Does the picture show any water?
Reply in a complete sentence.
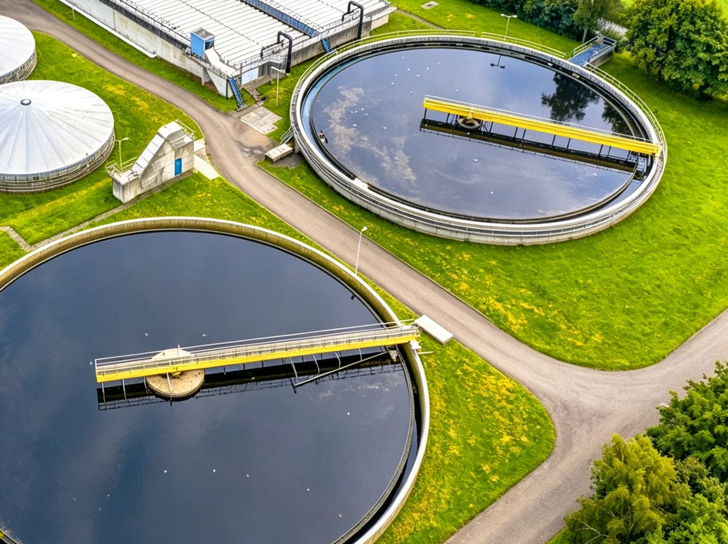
Yes, water shows up in the scene.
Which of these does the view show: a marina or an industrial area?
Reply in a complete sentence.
This image shows an industrial area.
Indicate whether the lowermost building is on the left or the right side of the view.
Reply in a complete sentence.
The lowermost building appears in the left half of the scene.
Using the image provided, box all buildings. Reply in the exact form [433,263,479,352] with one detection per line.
[67,0,405,99]
[107,118,195,203]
